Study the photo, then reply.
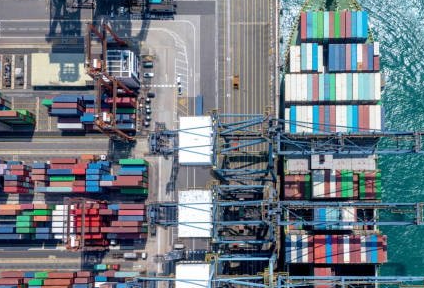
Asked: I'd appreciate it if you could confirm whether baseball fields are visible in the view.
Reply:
No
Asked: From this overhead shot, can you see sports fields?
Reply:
No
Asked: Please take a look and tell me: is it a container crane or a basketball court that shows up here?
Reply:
container crane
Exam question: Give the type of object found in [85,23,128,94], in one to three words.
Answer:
crane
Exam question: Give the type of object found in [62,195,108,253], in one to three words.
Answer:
crane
